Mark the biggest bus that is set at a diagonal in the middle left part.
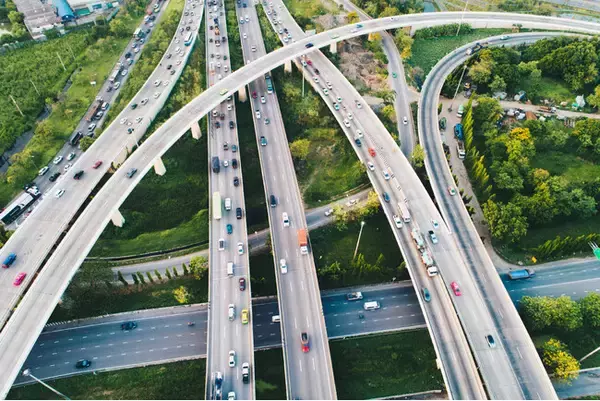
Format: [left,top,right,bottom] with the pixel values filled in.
[2,193,32,221]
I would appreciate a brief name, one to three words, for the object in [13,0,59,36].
shed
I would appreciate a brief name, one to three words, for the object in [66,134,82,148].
vehicle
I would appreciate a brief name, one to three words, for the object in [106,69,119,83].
vehicle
